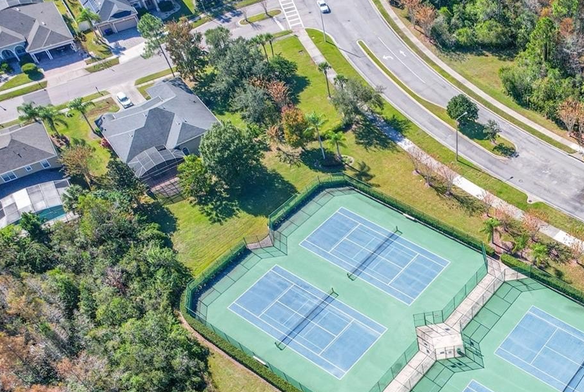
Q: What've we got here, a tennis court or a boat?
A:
tennis court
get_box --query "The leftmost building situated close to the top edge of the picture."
[0,0,77,64]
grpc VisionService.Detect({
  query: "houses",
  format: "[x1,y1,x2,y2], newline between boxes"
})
[95,77,222,190]
[80,0,174,34]
[0,121,82,235]
[0,0,77,64]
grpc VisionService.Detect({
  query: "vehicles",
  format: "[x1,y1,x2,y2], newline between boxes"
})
[115,90,133,108]
[317,1,329,13]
